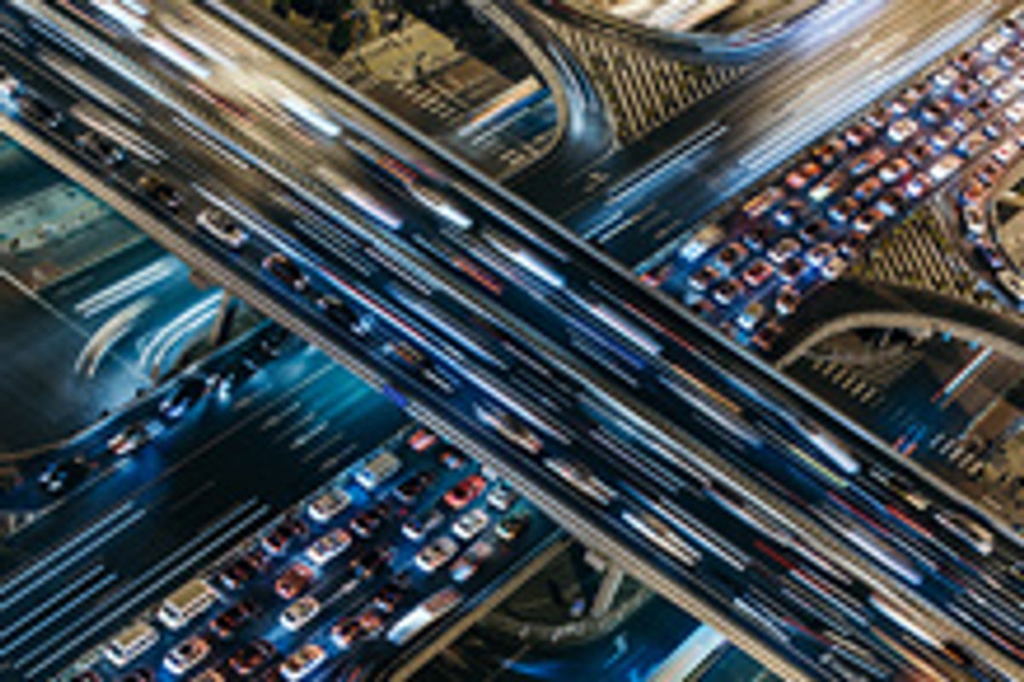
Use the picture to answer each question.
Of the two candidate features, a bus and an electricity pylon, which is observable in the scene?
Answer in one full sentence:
Visible in the photo is a bus.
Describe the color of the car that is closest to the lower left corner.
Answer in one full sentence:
In this view, the car that is closest to the lower left corner is black.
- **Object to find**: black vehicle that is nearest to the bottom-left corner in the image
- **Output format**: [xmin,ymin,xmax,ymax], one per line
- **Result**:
[67,657,113,682]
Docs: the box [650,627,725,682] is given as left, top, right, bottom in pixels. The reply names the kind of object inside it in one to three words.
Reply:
bus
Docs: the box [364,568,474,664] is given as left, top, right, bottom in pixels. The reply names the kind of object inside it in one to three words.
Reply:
bus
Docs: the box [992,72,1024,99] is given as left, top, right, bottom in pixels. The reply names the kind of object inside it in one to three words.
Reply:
car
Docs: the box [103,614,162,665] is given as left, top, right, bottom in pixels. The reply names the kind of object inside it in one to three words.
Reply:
vehicle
